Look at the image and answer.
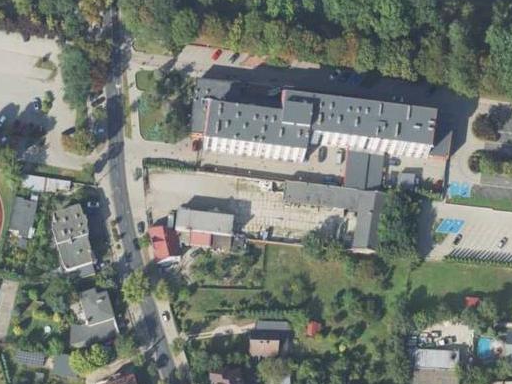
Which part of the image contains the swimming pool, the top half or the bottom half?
bottom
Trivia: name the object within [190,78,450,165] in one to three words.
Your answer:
building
